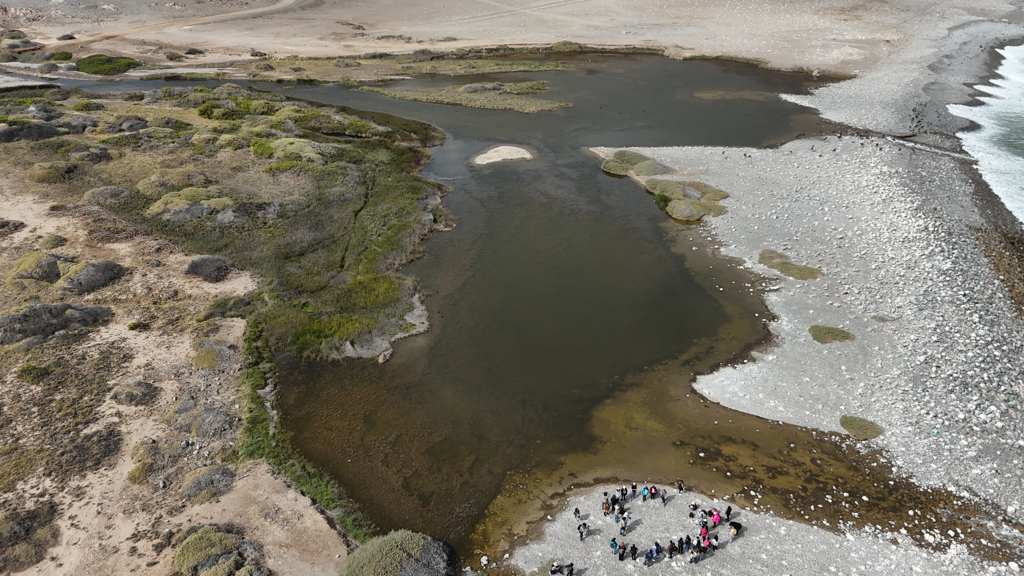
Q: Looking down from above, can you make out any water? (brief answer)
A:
Yes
